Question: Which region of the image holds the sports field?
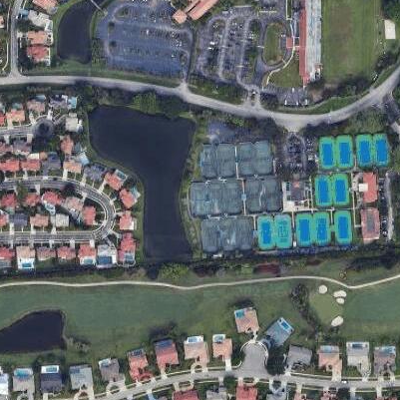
top right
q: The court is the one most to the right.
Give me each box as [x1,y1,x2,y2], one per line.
[374,134,391,169]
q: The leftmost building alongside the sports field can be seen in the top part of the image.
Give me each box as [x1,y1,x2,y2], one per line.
[286,0,323,84]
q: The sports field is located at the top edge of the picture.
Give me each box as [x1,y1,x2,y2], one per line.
[323,0,380,82]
